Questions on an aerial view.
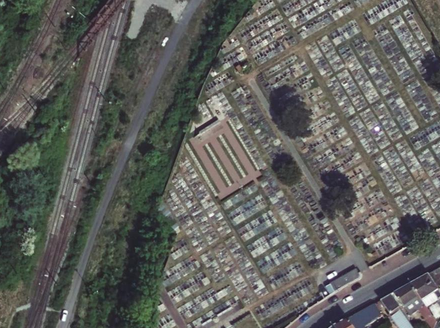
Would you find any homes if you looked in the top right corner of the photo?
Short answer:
No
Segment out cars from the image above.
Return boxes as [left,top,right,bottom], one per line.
[62,310,68,320]
[162,37,168,46]
[300,314,310,322]
[402,248,412,256]
[328,271,338,278]
[352,283,362,290]
[344,296,354,304]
